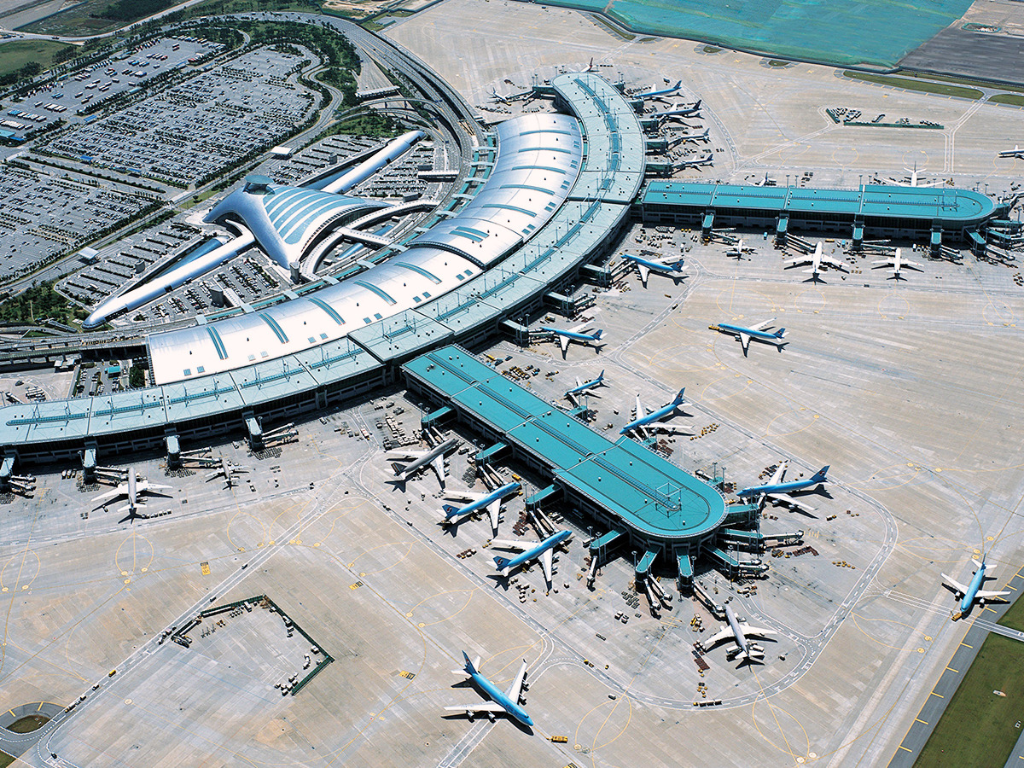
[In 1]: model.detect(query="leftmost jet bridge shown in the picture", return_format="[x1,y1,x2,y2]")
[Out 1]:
[0,453,40,495]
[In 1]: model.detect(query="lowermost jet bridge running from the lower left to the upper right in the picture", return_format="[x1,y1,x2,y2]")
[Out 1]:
[584,523,635,586]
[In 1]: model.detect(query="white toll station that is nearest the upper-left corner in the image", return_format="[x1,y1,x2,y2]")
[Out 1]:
[78,246,99,265]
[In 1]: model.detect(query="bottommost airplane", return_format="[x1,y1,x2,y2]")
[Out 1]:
[444,653,535,726]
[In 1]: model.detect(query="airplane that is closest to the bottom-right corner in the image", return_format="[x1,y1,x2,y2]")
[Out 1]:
[942,554,1009,612]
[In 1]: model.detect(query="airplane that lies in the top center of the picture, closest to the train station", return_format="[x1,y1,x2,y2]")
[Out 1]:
[481,83,516,105]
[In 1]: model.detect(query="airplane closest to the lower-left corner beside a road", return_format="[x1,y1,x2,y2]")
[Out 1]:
[92,465,173,510]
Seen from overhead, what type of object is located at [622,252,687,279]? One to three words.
airplane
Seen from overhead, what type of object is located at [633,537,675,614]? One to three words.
jet bridge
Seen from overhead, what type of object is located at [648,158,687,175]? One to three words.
jet bridge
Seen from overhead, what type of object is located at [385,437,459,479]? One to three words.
airplane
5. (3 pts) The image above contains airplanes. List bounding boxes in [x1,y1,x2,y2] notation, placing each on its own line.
[204,458,248,483]
[652,99,705,121]
[678,153,711,168]
[942,554,1009,612]
[884,167,944,187]
[481,83,516,105]
[622,252,687,279]
[785,243,850,271]
[385,437,459,479]
[619,388,693,434]
[747,169,779,185]
[722,242,757,257]
[634,80,685,100]
[444,653,535,726]
[872,248,924,272]
[737,458,831,508]
[92,465,173,510]
[544,318,607,349]
[437,482,519,526]
[718,316,788,347]
[564,372,606,396]
[487,529,571,578]
[677,129,706,144]
[704,605,776,657]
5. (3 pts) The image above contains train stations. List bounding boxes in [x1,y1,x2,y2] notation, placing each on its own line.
[93,132,459,329]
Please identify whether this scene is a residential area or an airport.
airport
